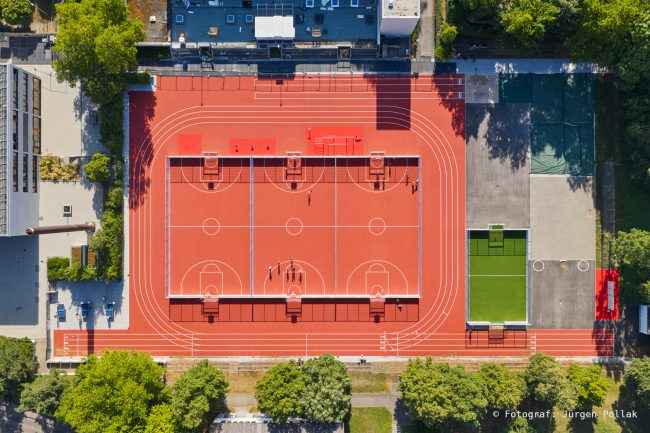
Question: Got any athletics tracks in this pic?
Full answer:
Yes, the frame does contain an athletics track.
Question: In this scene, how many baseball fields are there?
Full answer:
The photo contains no baseball fields.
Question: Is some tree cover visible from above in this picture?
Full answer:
Yes, the picture does contain tree cover.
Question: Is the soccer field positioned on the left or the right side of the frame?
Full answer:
The soccer field is on the right side of the image.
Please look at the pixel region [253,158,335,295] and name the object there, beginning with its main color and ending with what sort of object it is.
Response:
red basketball court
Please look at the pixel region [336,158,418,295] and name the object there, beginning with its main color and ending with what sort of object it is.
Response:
red basketball court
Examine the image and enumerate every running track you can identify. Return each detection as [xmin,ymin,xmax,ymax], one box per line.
[54,74,614,357]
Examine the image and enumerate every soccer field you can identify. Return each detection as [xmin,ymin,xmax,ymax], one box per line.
[468,230,526,321]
